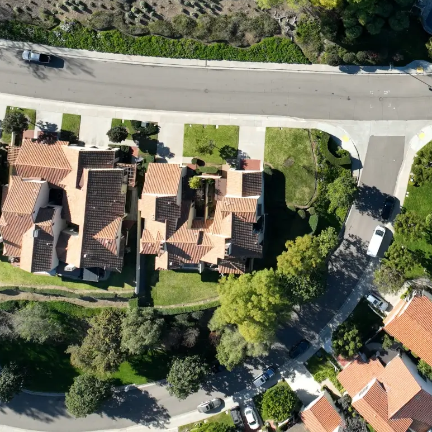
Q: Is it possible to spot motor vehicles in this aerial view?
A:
Yes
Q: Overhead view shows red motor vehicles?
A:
No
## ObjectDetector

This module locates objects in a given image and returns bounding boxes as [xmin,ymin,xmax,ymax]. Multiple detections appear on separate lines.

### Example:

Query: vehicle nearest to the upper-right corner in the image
[382,195,395,220]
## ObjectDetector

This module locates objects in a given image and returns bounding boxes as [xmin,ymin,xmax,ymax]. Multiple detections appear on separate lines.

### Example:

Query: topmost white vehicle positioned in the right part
[366,225,386,259]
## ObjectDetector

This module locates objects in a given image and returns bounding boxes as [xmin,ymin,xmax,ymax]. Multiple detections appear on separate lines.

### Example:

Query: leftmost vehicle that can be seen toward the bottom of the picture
[197,396,222,413]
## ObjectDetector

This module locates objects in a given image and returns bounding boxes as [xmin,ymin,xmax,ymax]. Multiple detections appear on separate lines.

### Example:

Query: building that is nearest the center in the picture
[137,161,268,275]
